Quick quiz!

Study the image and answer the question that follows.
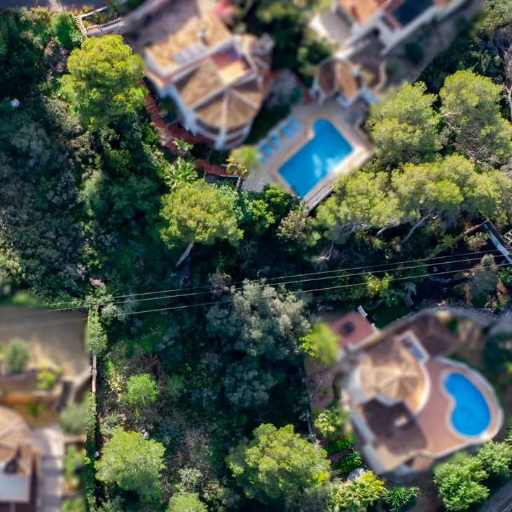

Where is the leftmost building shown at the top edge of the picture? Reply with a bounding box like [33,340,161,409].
[138,9,274,159]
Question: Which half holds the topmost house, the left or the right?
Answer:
right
